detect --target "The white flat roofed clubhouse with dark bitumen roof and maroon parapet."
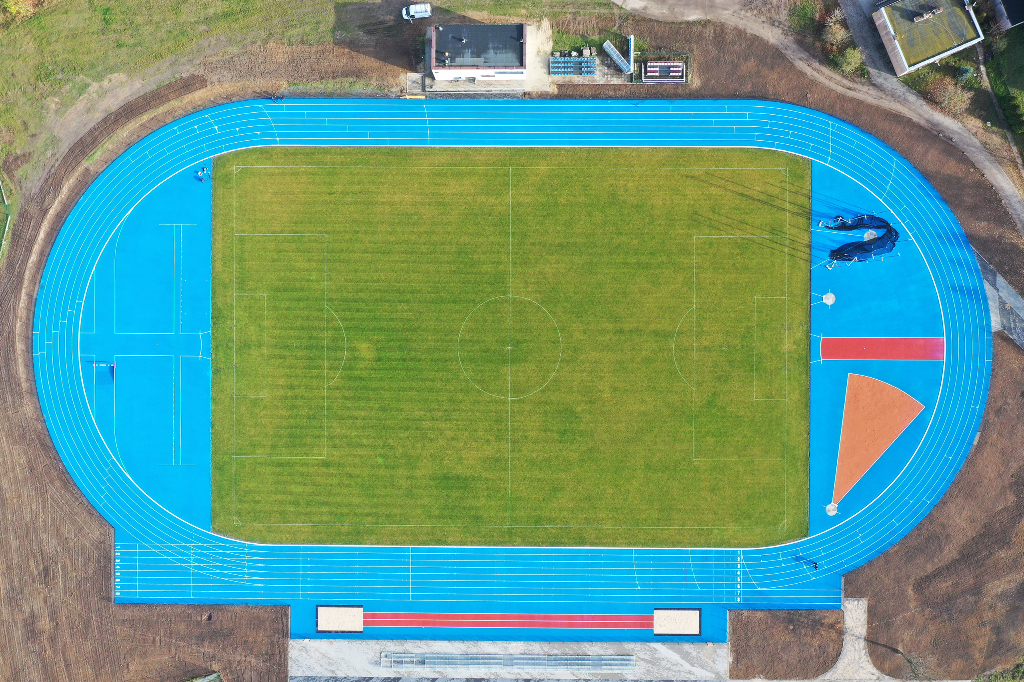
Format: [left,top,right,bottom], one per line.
[431,23,526,88]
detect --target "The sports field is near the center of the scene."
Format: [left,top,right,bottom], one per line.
[211,147,811,547]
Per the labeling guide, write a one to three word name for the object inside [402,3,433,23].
vehicle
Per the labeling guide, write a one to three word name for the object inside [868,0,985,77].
house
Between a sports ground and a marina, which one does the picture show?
sports ground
